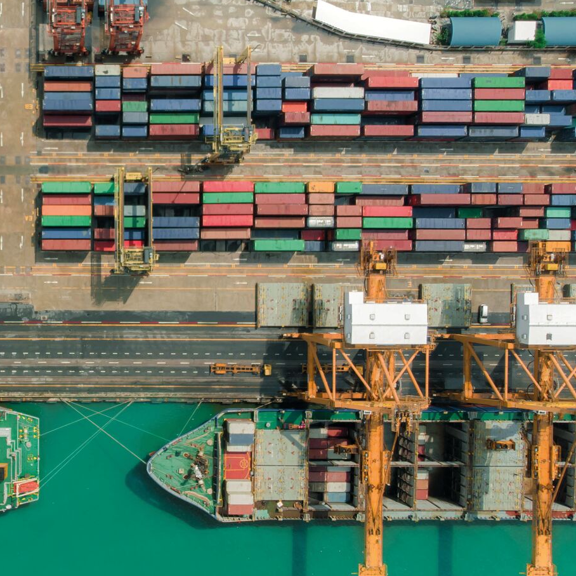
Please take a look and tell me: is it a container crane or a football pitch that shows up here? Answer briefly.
container crane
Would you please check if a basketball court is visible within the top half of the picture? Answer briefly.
No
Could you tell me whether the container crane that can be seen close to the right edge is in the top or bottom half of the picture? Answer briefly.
bottom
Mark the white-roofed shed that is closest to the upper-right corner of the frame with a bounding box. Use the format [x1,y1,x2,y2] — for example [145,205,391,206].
[505,21,537,45]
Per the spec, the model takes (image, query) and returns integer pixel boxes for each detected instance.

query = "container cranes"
[274,237,432,576]
[427,238,576,576]
[196,42,256,159]
[96,0,148,52]
[107,165,158,274]
[46,0,93,52]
